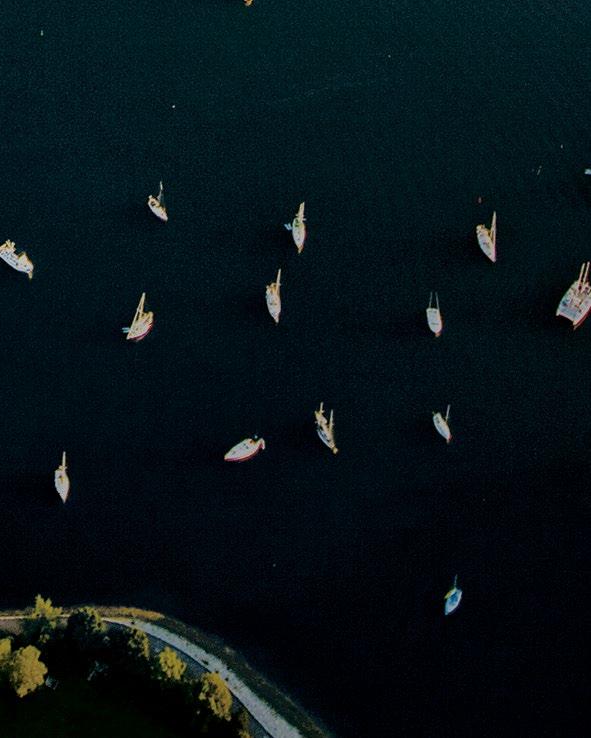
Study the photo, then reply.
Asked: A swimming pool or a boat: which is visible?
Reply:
boat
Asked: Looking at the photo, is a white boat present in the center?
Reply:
Yes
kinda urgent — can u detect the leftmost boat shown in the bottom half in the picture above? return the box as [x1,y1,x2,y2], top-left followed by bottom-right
[54,451,69,504]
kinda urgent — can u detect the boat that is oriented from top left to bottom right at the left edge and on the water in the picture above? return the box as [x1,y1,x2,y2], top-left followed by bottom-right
[0,239,34,279]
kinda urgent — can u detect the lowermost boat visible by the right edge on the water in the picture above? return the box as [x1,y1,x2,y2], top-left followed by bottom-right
[558,262,591,325]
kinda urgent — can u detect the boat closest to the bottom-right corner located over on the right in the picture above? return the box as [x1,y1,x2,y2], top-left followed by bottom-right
[445,577,463,616]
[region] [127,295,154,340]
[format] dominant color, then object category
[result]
white boat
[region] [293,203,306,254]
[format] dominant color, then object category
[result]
white boat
